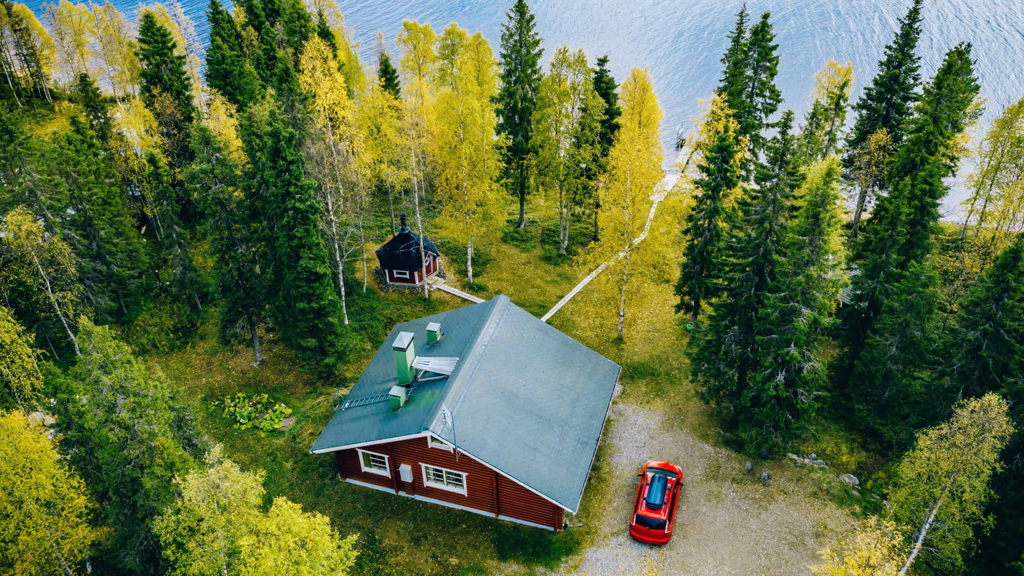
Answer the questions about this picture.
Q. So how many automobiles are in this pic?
1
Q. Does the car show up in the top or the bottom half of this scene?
bottom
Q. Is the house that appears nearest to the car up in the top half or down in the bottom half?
bottom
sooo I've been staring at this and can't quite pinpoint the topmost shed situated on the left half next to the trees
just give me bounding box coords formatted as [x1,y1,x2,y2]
[376,213,441,287]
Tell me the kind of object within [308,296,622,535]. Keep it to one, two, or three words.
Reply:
house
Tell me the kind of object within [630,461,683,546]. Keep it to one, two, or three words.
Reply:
car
